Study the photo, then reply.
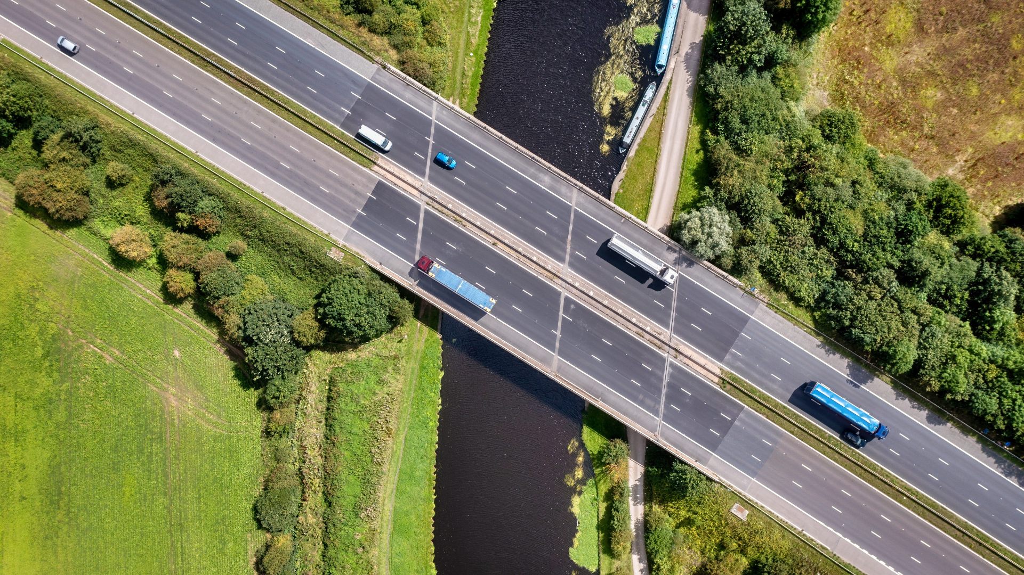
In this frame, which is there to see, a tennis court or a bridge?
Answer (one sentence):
It is a bridge that can be seen here.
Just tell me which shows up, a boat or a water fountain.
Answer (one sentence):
The one in the frame is a boat.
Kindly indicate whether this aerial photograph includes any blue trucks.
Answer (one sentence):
Yes, the photo shows a blue truck.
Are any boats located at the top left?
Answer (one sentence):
No, no boat can be made out at the top left.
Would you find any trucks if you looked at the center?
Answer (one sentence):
Yes, a truck can be seen at the center.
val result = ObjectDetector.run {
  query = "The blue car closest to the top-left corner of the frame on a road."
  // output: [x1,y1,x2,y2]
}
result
[436,152,457,169]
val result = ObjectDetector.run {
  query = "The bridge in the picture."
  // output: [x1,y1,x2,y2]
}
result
[361,60,751,478]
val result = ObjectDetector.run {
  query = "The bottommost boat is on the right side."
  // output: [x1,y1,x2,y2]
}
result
[618,81,656,154]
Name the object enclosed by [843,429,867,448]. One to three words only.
car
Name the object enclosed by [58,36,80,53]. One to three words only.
car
